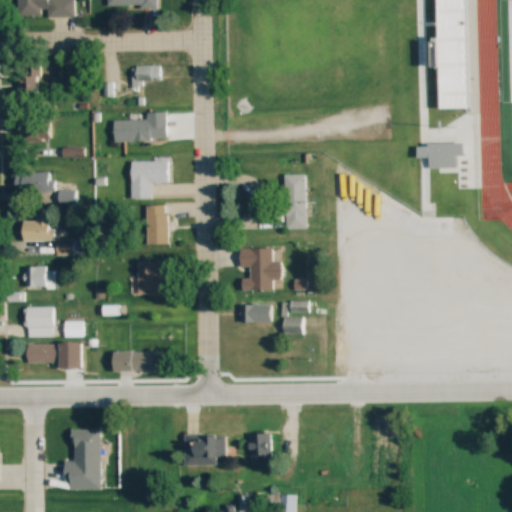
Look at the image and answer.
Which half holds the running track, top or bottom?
top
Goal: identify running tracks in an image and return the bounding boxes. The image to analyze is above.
[478,0,512,231]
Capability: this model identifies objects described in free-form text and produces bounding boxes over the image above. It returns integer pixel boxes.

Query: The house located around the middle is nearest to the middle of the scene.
[240,248,284,292]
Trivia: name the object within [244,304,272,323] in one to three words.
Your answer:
building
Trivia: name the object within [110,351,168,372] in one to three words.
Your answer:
house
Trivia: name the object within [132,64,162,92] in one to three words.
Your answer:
house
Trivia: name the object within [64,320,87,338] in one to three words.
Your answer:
building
